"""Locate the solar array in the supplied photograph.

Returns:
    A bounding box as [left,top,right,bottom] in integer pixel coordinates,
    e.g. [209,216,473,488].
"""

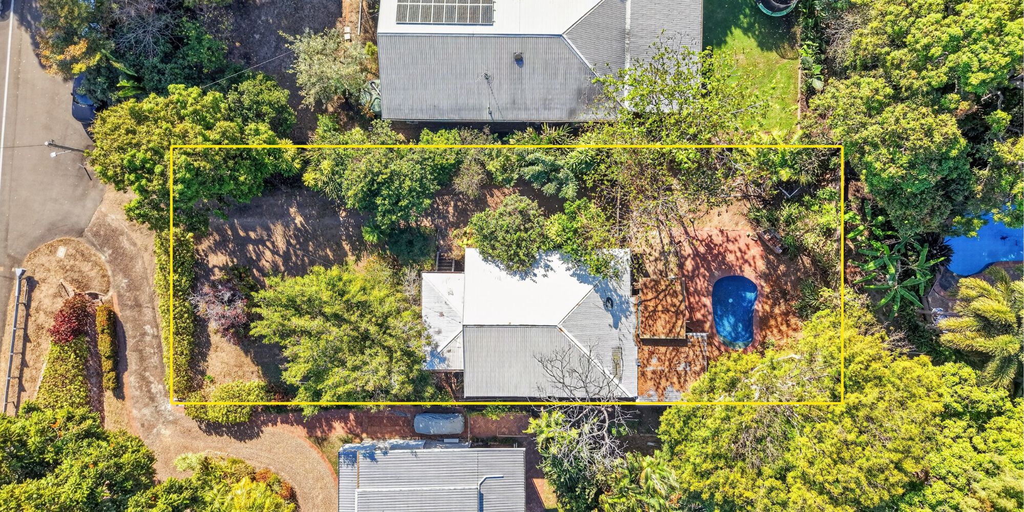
[396,0,496,23]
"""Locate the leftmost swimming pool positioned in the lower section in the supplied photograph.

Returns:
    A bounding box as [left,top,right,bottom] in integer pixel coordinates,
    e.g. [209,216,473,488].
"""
[707,270,763,355]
